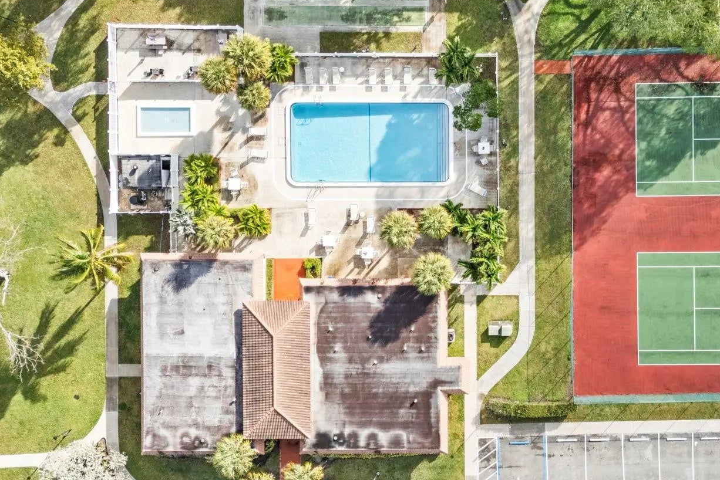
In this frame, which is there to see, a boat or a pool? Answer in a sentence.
I can see a pool in this picture.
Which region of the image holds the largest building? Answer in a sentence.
The largest building is located in the bottom region of the scene.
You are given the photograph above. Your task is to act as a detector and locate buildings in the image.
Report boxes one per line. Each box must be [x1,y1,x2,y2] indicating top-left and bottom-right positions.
[140,252,470,455]
[122,157,161,187]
